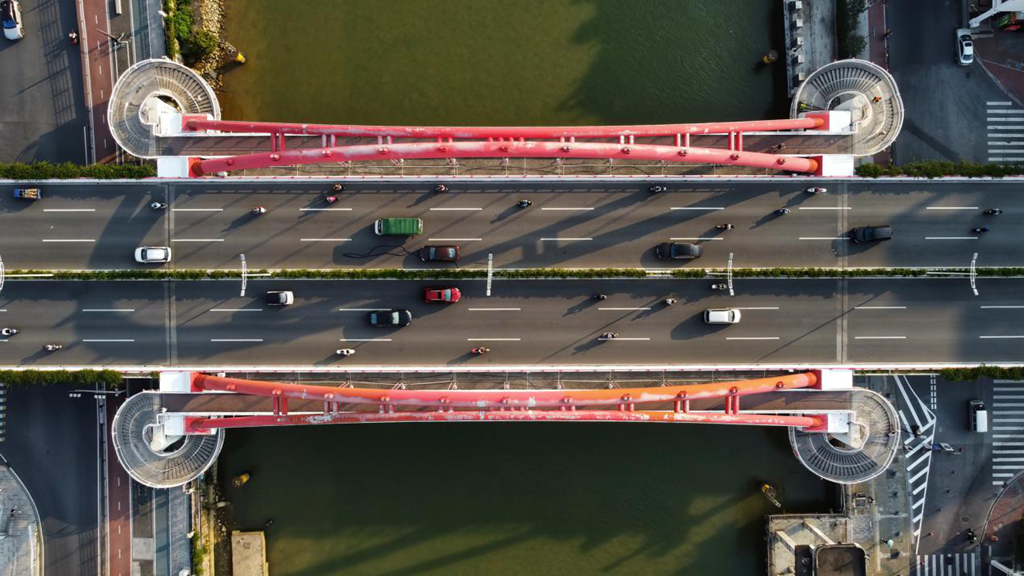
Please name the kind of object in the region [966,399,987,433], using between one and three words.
vehicle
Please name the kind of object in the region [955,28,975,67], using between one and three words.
car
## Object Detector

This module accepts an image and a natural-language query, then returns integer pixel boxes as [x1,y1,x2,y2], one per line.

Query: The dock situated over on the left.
[231,531,271,576]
